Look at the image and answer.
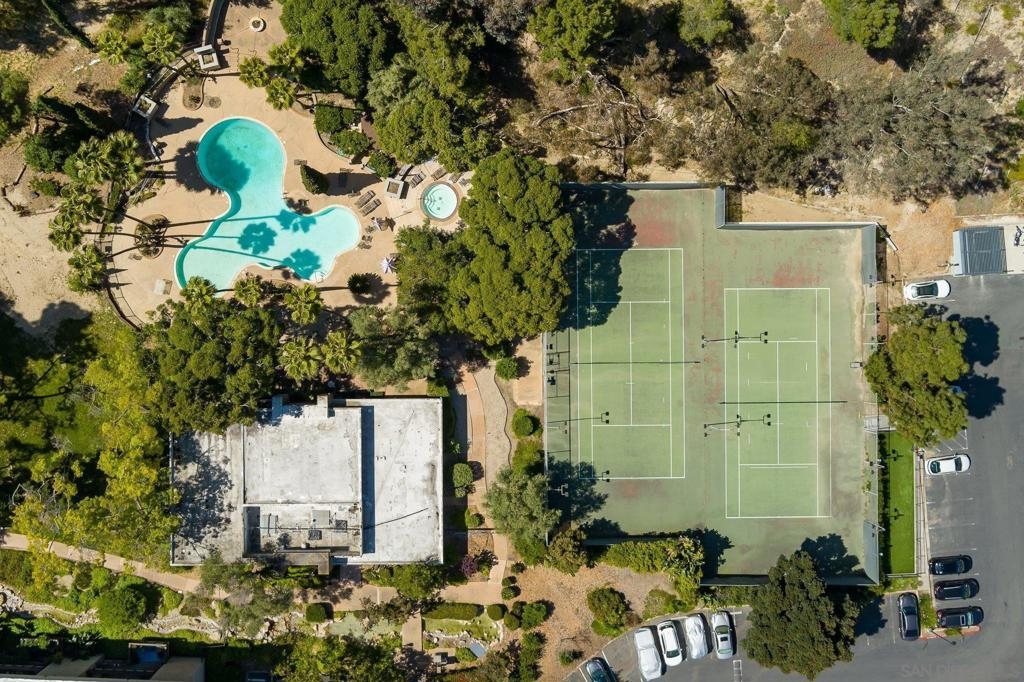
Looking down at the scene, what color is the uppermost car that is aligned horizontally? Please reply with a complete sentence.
The uppermost car that is aligned horizontally looks white in the image.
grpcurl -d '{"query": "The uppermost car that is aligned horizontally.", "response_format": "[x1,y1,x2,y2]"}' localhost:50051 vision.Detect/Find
[901,278,950,300]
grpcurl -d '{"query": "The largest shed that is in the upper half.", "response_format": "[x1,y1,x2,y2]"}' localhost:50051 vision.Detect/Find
[951,227,1006,276]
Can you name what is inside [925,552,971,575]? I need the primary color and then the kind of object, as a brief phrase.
black car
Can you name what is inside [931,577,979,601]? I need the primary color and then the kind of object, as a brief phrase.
black car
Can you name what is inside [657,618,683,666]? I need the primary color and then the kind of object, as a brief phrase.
white car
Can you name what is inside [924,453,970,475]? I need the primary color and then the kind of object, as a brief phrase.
white car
